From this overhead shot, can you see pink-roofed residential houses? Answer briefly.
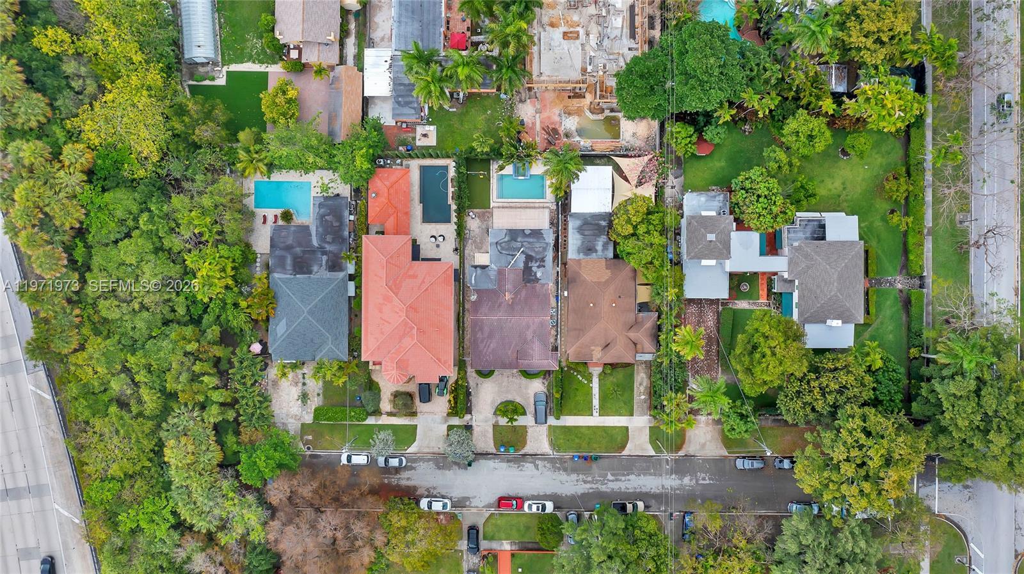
Yes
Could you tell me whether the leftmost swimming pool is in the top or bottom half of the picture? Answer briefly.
top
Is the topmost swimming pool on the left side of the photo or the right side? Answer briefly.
right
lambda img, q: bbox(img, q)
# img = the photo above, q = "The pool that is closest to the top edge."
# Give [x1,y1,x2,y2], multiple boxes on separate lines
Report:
[697,0,744,41]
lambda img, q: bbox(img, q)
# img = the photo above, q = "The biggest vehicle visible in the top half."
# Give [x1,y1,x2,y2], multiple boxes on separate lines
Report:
[995,93,1014,122]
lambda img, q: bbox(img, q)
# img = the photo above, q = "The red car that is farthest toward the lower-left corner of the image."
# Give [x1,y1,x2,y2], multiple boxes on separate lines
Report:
[497,497,523,510]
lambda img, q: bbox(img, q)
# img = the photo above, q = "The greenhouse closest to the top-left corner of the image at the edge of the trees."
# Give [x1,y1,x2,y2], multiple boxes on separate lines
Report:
[183,0,222,69]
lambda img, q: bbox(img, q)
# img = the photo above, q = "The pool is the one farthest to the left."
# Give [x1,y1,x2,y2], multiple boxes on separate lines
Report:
[253,179,313,221]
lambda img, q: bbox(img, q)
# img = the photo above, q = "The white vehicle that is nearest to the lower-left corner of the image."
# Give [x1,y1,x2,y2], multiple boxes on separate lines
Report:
[341,452,371,465]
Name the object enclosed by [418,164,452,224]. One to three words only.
swimming pool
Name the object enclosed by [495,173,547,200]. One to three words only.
swimming pool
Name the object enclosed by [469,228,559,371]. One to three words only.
house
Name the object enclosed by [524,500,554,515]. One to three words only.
car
